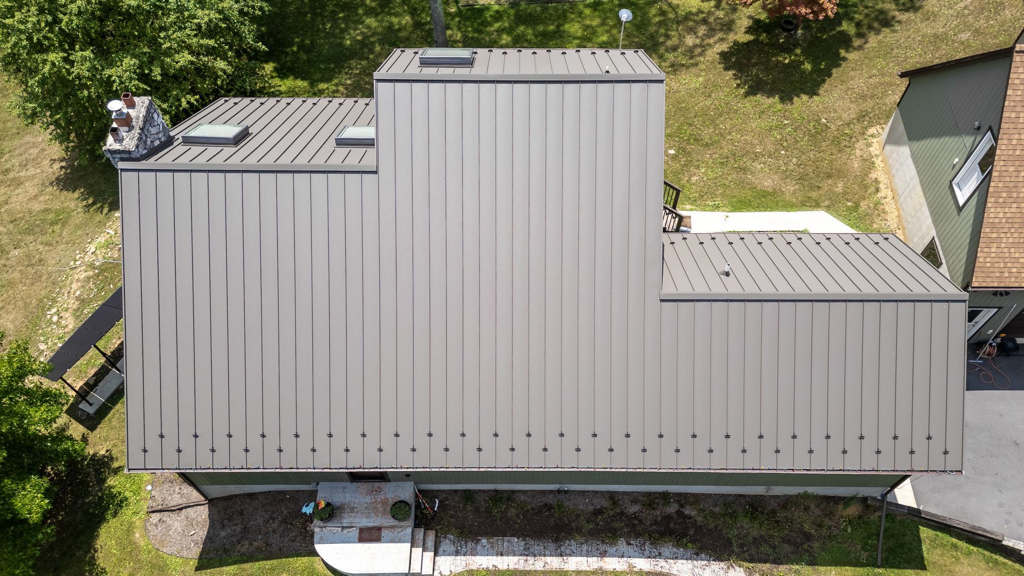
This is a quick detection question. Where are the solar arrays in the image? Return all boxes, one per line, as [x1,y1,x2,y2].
[38,283,122,406]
